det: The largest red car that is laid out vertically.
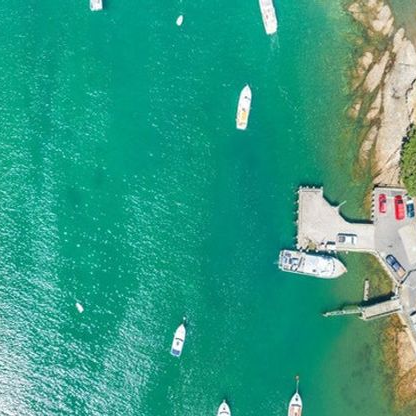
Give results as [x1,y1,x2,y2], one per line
[392,195,405,220]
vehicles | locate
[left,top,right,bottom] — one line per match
[392,195,405,220]
[404,196,416,219]
[408,312,416,332]
[384,254,406,277]
[376,194,388,214]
